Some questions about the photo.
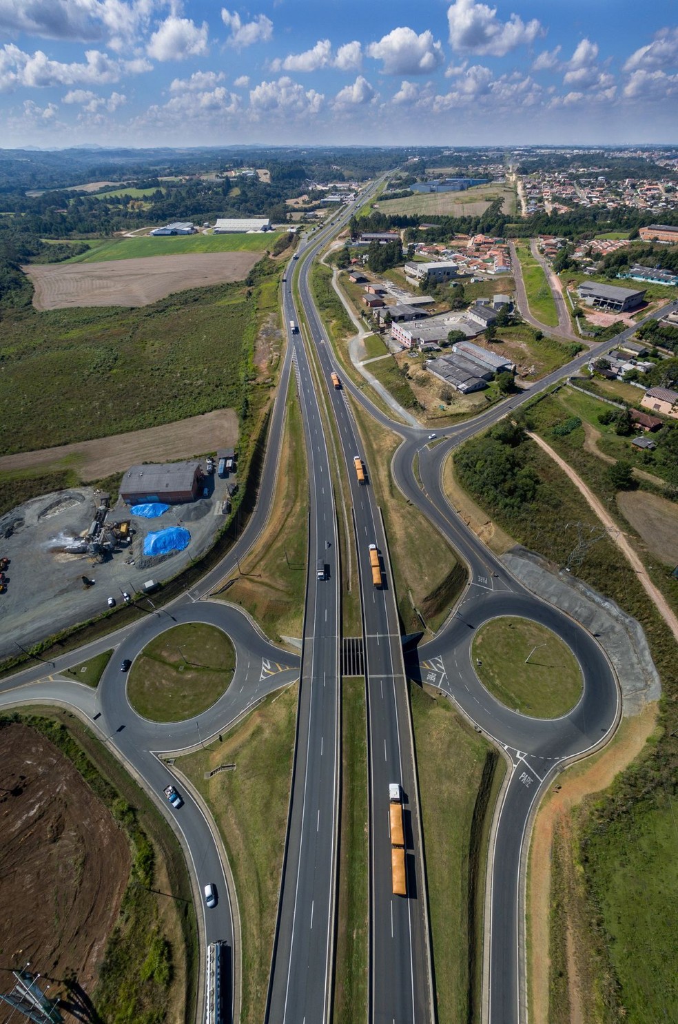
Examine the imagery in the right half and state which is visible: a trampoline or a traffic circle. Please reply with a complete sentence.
The feature located in the right half is a traffic circle.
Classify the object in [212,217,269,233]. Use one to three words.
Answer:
shed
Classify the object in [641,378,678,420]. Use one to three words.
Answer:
building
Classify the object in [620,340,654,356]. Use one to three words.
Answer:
house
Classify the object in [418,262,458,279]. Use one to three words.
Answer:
building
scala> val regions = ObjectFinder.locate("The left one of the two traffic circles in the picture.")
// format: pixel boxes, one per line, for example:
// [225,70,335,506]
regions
[0,335,302,1024]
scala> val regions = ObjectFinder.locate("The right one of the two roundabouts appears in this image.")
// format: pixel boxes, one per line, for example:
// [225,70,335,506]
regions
[327,297,678,1024]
